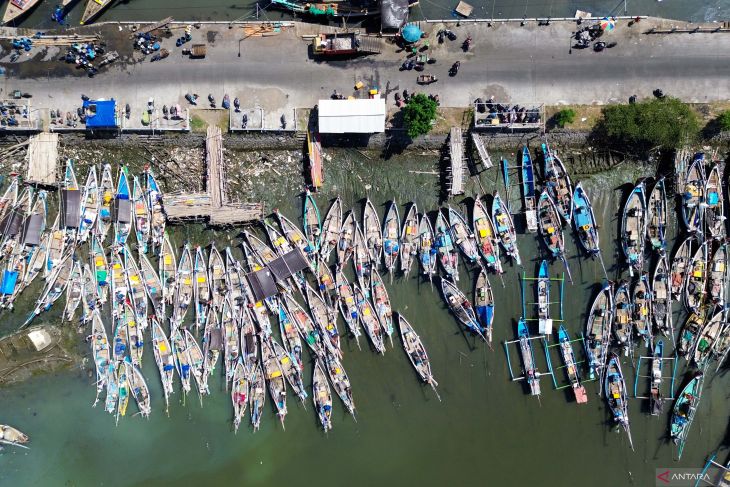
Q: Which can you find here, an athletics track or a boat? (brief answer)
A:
boat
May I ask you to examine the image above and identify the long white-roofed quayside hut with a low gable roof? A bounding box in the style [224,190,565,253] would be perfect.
[317,98,386,136]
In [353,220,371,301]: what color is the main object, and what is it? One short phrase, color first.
white boat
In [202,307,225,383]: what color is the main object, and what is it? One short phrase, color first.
gray boat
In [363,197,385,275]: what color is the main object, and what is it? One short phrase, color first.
white boat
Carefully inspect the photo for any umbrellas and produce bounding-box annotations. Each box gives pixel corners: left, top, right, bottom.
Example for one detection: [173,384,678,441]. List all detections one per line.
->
[599,14,615,30]
[401,24,421,43]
